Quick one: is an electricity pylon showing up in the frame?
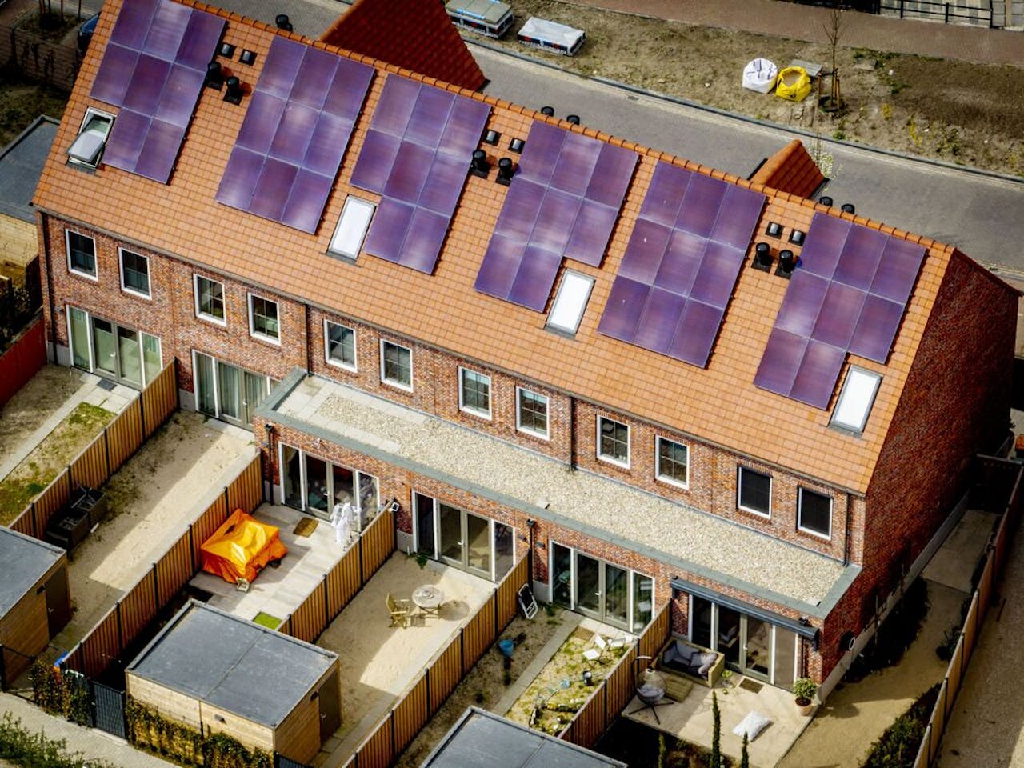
No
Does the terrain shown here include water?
No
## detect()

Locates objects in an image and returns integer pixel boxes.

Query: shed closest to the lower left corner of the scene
[0,524,71,678]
